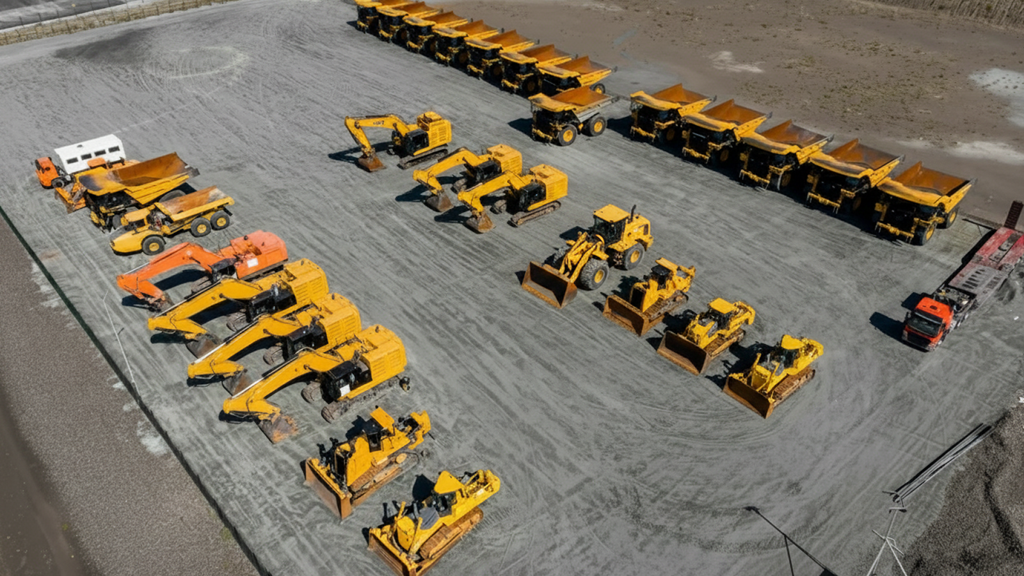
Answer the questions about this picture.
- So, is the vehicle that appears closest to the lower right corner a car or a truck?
truck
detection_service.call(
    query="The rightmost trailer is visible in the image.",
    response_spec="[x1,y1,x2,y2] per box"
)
[947,194,1024,302]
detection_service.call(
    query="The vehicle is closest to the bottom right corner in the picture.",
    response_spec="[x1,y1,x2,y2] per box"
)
[900,291,971,352]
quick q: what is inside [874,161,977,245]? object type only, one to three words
truck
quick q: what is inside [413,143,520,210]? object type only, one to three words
work vehicle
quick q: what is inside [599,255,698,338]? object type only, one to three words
work vehicle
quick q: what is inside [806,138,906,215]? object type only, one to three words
truck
